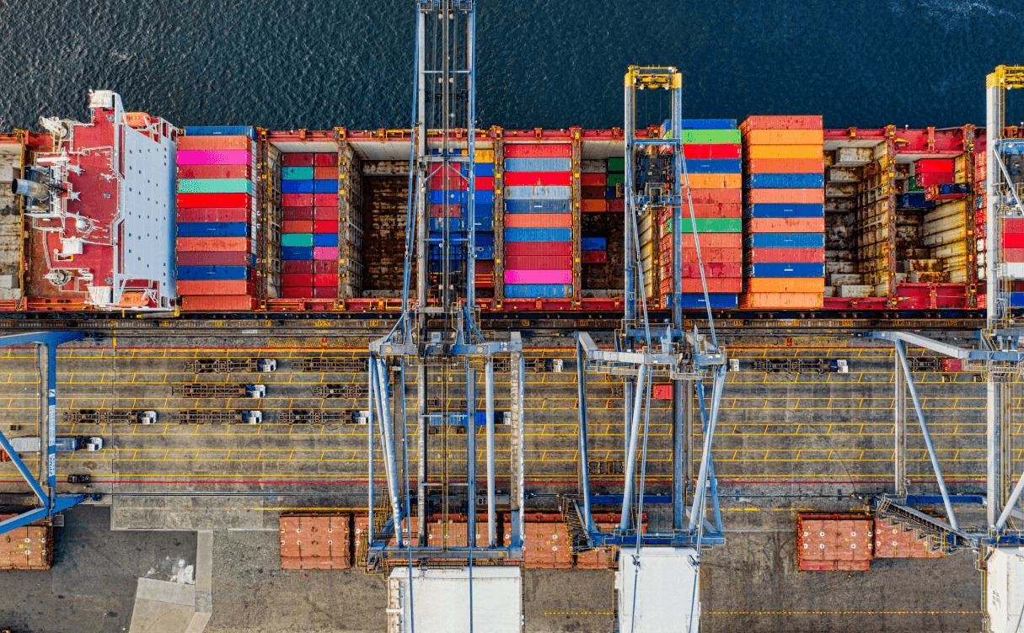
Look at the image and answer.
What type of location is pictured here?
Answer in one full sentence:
What you see here is a port.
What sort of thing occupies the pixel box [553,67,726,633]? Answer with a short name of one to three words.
container crane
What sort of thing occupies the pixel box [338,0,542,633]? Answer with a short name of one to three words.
container crane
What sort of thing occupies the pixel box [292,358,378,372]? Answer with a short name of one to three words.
vehicle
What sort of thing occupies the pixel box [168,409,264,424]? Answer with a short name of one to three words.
vehicle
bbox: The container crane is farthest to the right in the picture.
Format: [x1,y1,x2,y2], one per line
[859,68,1024,633]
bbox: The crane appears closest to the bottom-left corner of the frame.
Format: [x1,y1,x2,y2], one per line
[0,330,89,533]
